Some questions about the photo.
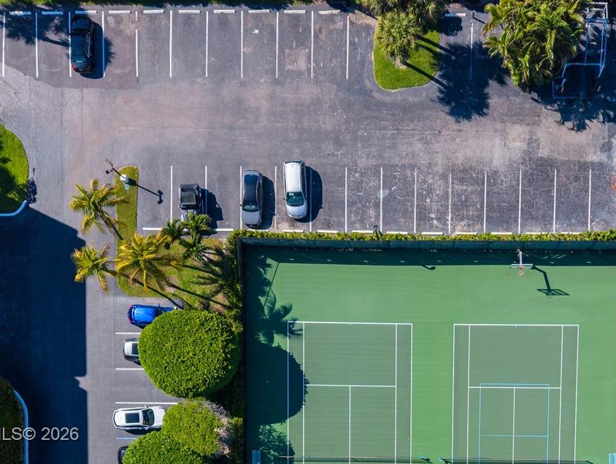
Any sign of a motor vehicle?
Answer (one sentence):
Yes, I can see a motor vehicle in this picture.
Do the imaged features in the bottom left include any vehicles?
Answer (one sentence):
Yes, the scene does show a vehicle in the bottom left.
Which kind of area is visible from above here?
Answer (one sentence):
The picture captures a sports ground.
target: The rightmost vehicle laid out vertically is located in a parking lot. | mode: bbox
[281,160,308,222]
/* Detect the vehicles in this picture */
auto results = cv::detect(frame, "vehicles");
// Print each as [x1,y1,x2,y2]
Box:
[116,446,127,464]
[178,175,206,224]
[238,170,265,230]
[127,302,175,327]
[281,160,308,222]
[121,341,138,362]
[114,406,164,431]
[66,17,97,77]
